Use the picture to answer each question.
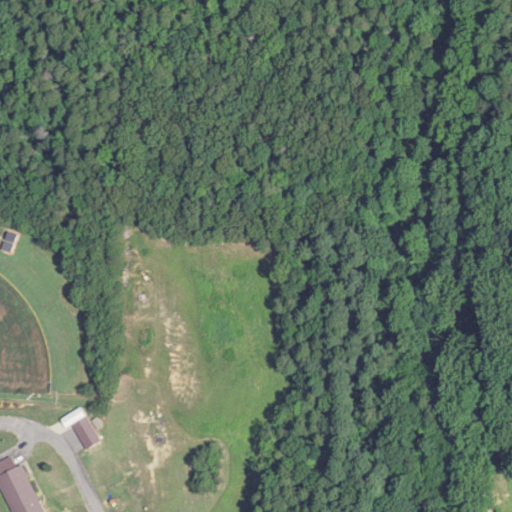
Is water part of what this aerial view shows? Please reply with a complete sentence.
No, the scene doesn't show any water.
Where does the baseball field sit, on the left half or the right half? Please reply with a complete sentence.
The baseball field appears in the left half of the scene.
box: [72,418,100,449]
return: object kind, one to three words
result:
house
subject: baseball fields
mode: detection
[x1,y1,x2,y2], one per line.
[0,276,50,392]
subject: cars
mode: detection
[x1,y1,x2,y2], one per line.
[14,456,24,463]
[18,440,27,448]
